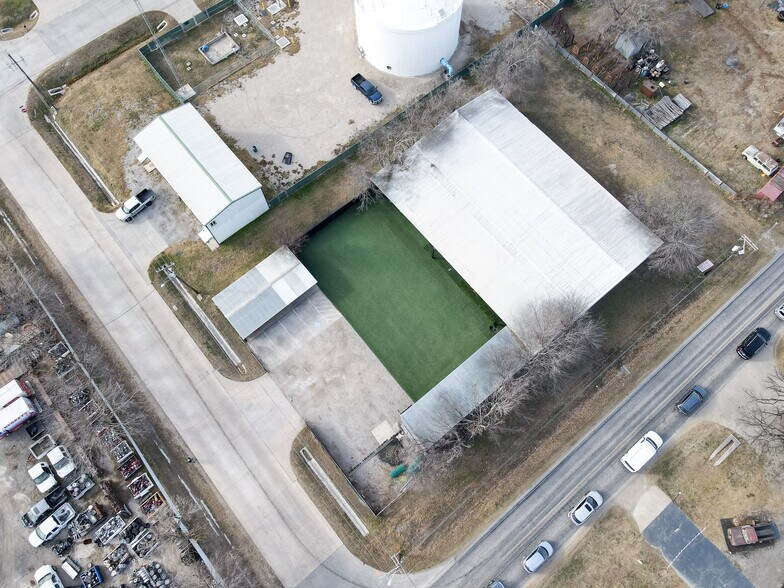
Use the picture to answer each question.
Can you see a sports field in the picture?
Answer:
Yes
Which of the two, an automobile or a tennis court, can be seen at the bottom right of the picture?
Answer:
automobile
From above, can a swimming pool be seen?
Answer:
No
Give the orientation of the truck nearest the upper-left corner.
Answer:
on a diagonal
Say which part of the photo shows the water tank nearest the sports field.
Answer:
top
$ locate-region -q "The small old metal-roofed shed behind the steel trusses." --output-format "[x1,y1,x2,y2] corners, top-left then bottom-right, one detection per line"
[611,28,651,65]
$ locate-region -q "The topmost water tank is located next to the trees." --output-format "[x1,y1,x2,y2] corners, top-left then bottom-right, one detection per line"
[356,0,462,78]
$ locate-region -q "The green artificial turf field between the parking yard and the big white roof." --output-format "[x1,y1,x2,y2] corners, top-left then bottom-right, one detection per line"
[304,191,510,403]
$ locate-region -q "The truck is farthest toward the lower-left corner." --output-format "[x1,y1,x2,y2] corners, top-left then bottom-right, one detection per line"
[32,564,65,588]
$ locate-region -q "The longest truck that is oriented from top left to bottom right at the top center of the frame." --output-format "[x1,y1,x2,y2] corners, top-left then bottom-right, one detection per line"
[347,72,385,107]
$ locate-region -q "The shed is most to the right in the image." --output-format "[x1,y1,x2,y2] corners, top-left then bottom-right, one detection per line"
[748,172,784,206]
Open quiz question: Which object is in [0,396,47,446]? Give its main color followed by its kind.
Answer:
white trailer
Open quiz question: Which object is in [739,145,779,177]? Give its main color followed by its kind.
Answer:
white car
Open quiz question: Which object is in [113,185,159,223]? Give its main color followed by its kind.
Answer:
white truck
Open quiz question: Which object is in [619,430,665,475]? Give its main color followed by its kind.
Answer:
white vehicle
